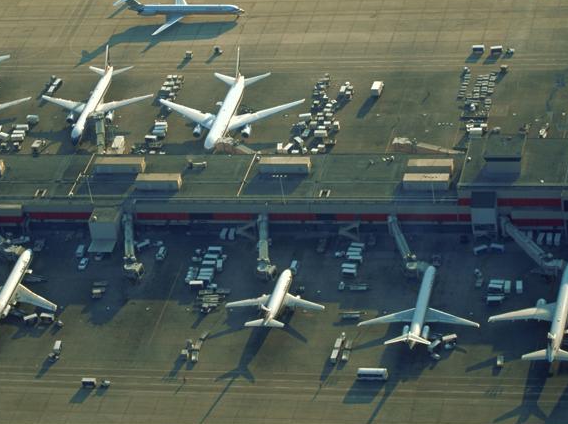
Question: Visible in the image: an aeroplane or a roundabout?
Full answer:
It is an aeroplane that can be seen here.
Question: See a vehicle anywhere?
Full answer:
Yes, you can see a vehicle in this photo.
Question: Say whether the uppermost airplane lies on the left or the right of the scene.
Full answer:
The uppermost airplane is on the left side of the image.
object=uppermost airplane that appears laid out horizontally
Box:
[121,0,246,35]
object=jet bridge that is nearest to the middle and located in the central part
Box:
[254,214,279,283]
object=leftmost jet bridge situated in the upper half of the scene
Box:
[89,114,110,153]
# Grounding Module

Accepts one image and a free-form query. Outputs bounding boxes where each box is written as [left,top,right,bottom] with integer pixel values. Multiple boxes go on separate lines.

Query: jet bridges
[499,222,565,281]
[0,243,22,266]
[221,137,266,153]
[254,214,279,283]
[120,215,146,283]
[384,215,426,283]
[89,114,110,153]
